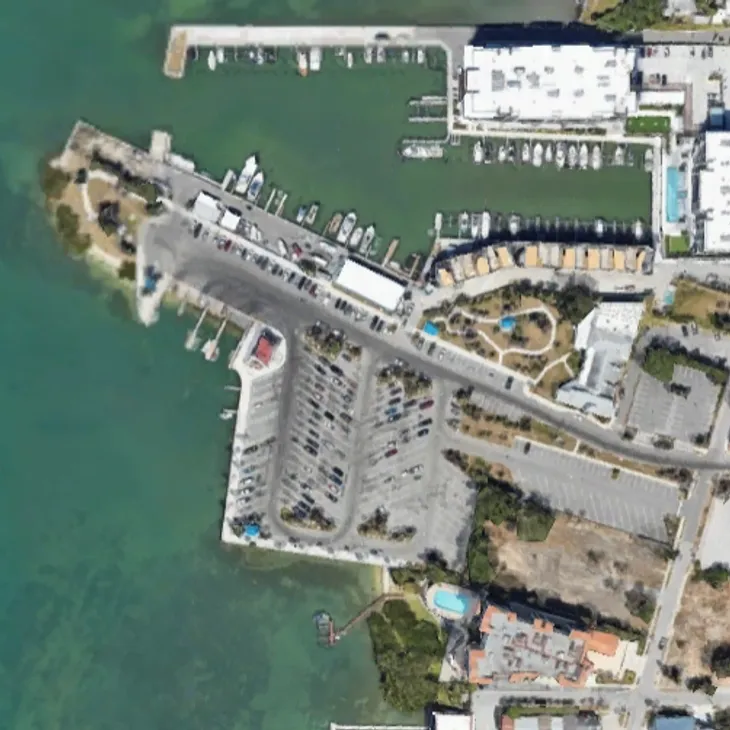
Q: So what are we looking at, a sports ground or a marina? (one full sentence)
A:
The area seen from above is a marina.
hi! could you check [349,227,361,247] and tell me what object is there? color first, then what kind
white boat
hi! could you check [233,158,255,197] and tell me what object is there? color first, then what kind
white boat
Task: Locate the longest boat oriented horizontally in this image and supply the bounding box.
[402,145,446,158]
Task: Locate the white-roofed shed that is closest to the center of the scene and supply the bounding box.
[336,259,405,311]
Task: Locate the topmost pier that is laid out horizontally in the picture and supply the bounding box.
[164,25,447,79]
